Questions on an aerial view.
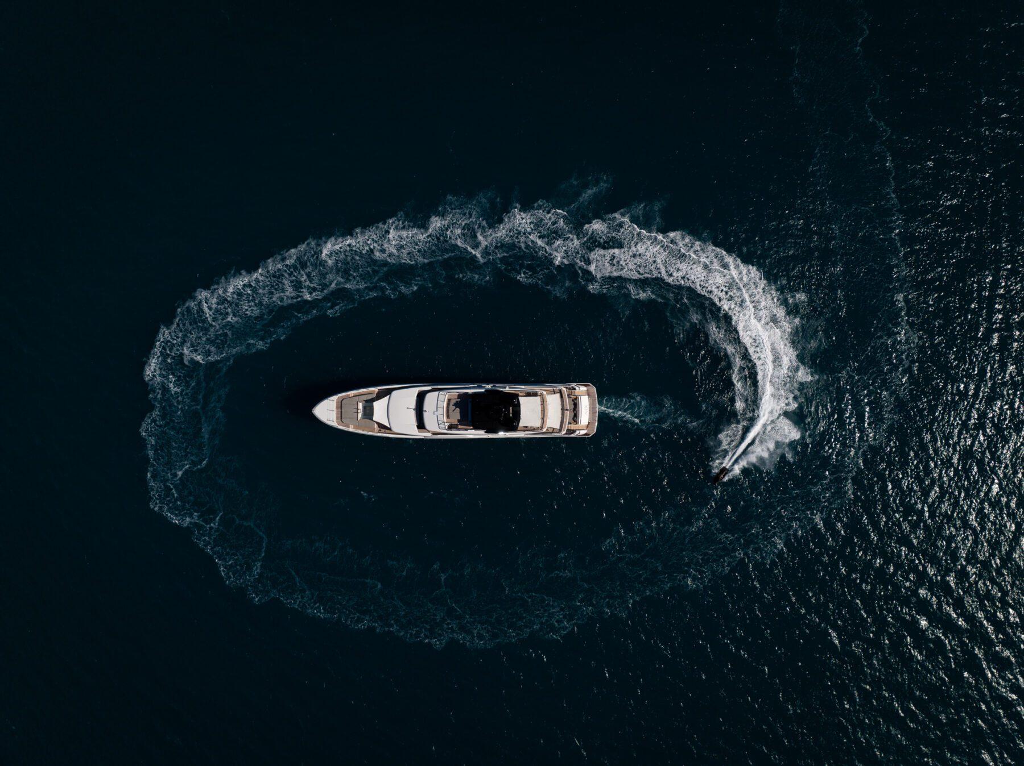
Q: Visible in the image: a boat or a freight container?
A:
boat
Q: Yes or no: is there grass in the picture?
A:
No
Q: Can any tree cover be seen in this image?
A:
No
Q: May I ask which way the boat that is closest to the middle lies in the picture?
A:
horizontally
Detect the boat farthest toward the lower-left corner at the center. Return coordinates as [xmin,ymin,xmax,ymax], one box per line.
[312,383,598,438]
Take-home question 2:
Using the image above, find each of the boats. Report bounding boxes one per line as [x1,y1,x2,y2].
[714,466,731,487]
[312,383,598,438]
